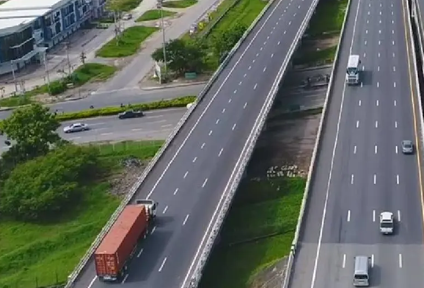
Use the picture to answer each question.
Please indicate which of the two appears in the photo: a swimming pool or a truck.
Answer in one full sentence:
I can see a truck in this picture.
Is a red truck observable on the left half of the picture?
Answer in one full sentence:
Yes, a red truck shows up on the left half of the picture.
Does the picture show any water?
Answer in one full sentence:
No, the scene doesn't show any water.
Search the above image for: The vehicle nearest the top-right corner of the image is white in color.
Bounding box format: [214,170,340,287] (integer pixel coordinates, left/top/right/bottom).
[347,56,360,84]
